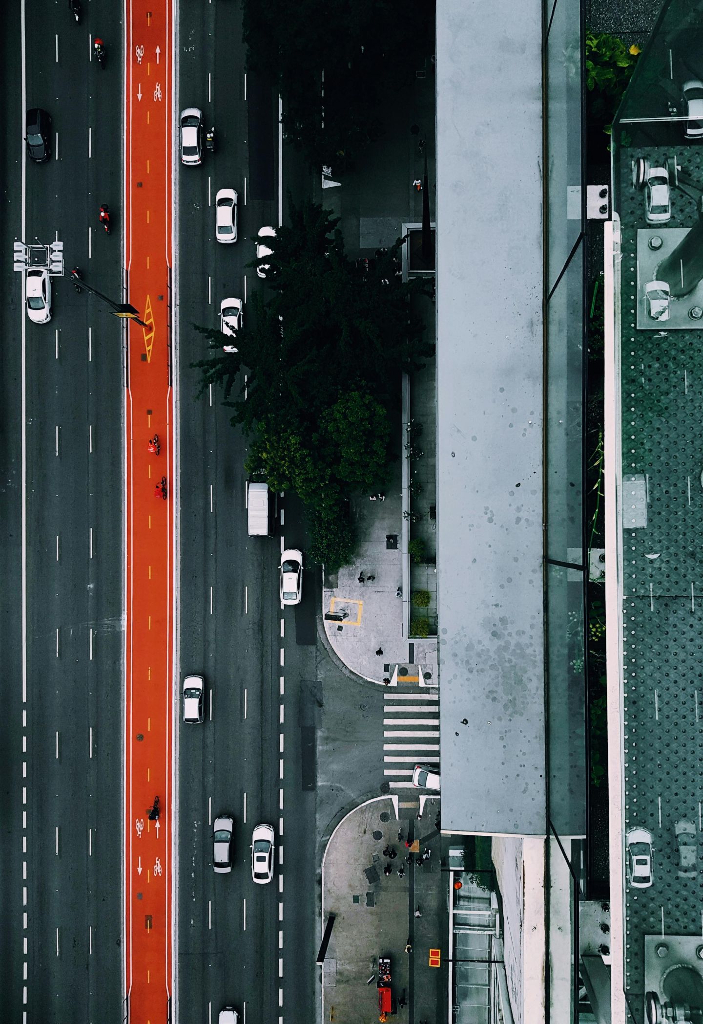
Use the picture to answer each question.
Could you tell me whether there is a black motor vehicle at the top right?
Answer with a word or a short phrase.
No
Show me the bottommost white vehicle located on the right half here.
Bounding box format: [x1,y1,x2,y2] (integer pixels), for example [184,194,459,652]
[412,763,441,793]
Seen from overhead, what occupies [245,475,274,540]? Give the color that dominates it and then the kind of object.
white van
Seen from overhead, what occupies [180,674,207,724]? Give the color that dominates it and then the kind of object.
white car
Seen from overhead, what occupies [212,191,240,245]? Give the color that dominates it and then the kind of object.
white car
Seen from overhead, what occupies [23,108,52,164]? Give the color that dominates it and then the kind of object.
black car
